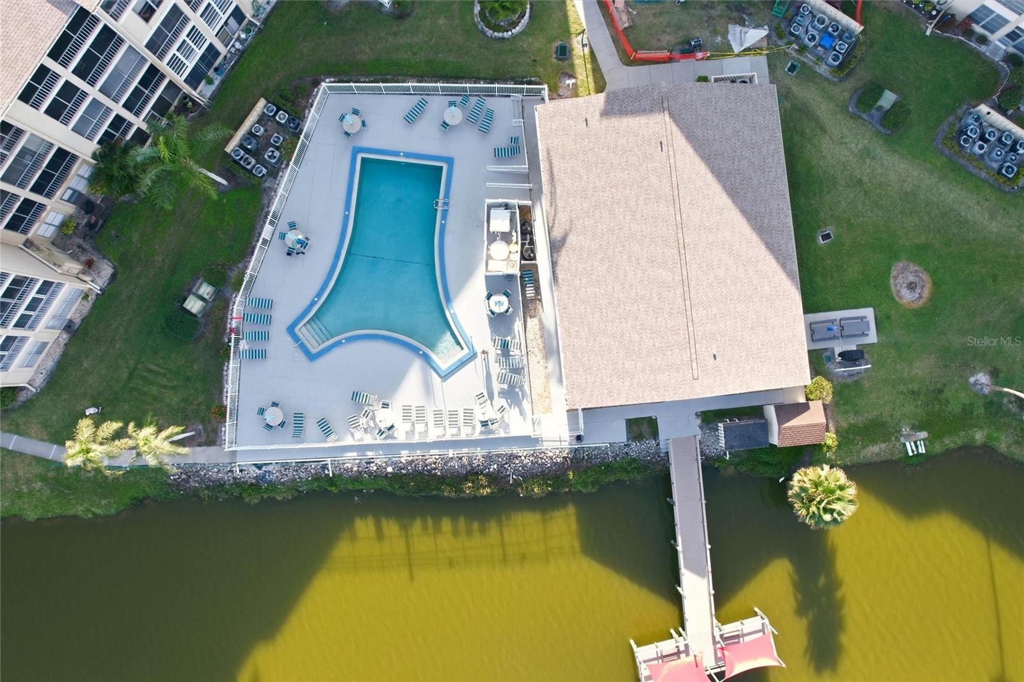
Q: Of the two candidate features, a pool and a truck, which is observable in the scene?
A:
pool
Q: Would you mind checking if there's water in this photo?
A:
Yes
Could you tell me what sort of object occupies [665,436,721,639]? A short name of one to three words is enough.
pier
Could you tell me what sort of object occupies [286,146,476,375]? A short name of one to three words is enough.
swimming pool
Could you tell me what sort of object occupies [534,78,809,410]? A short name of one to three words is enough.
building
